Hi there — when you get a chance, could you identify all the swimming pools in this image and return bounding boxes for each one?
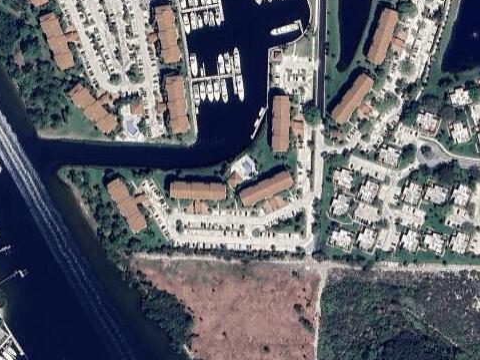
[240,160,254,176]
[124,119,140,137]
